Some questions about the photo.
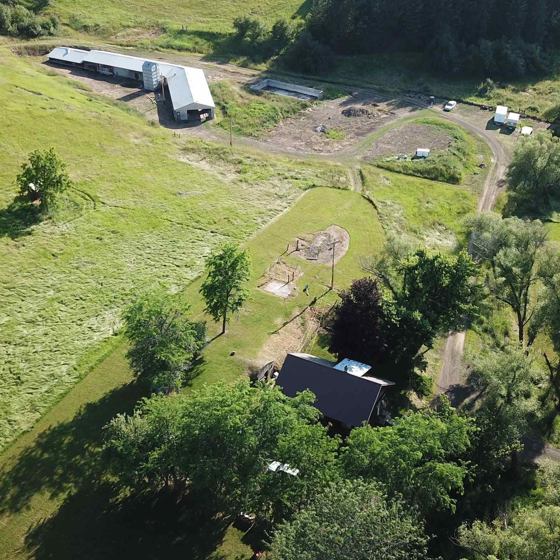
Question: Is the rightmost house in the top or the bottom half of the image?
bottom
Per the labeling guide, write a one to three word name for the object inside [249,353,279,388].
shed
